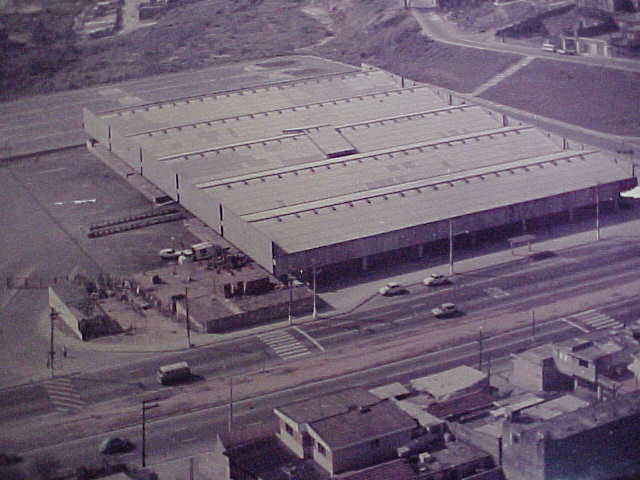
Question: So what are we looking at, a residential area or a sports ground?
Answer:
residential area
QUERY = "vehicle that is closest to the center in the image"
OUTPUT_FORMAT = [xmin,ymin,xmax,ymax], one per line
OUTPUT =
[378,281,406,294]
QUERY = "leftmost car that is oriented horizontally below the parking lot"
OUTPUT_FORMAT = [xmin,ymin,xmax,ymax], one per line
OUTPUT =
[98,437,133,454]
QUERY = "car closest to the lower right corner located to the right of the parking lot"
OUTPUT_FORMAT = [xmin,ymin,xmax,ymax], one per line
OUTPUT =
[430,302,460,317]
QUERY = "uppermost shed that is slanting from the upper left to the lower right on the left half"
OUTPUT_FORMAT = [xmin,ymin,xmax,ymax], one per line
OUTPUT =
[42,280,105,339]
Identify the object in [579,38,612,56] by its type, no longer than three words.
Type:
house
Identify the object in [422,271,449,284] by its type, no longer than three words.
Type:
vehicle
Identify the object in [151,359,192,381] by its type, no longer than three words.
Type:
vehicle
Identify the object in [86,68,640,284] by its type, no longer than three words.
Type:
building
